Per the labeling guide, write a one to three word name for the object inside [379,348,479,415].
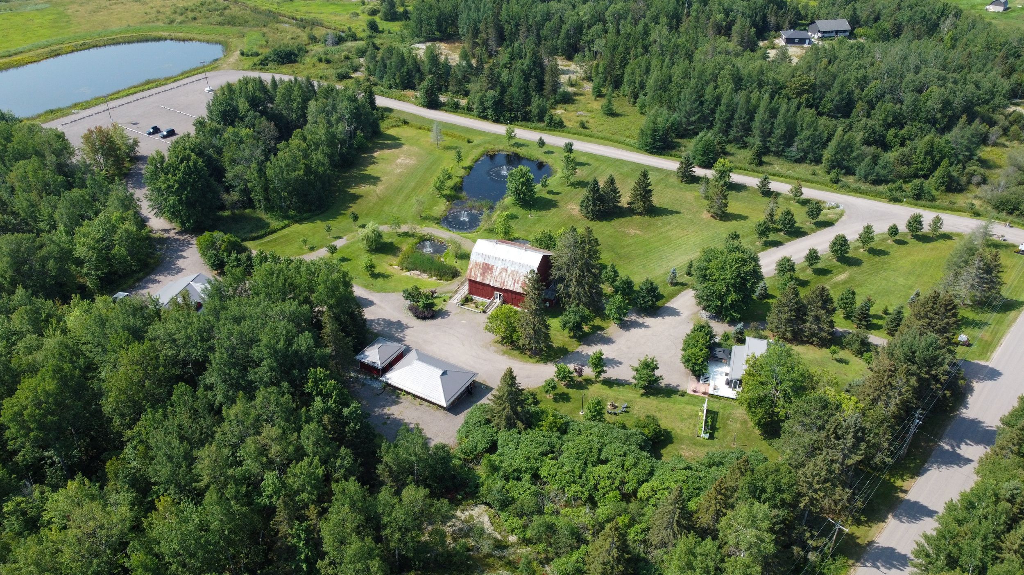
shed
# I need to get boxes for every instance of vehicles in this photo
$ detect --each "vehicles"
[144,122,161,135]
[159,127,176,138]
